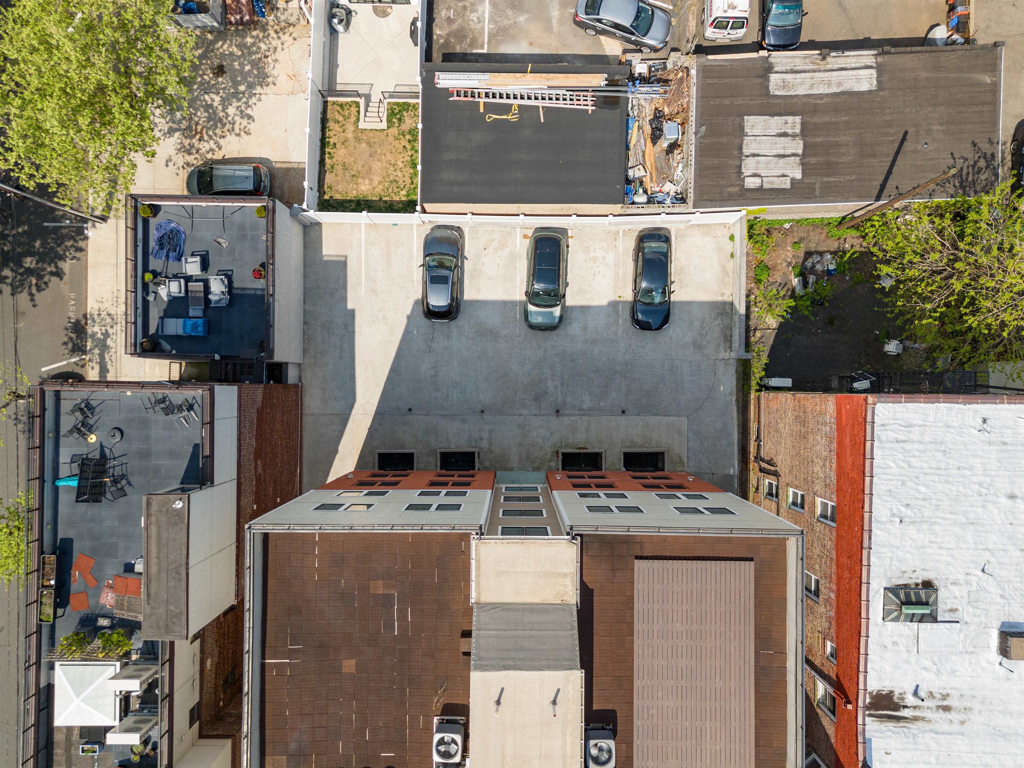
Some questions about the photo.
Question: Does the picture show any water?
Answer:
No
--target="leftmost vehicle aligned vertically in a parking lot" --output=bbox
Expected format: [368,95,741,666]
[417,229,464,323]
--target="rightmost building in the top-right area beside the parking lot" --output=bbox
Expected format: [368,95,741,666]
[686,37,1010,220]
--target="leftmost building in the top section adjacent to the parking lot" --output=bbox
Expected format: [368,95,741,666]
[122,192,303,361]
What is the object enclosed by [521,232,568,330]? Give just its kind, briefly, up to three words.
car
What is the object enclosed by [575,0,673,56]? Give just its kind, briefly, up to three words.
car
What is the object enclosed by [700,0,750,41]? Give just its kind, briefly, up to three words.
van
